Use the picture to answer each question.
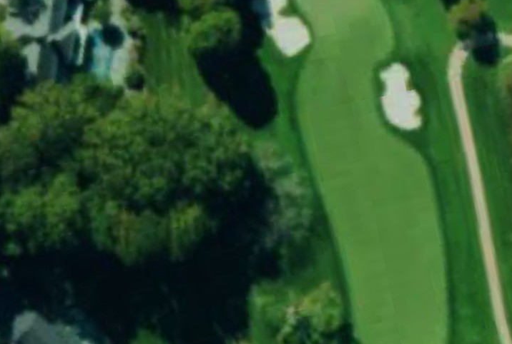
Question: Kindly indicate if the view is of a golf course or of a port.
golf course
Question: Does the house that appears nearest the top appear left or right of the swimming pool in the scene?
left of it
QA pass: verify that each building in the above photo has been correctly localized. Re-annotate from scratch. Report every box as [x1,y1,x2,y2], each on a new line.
[21,0,88,76]
[0,307,76,344]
